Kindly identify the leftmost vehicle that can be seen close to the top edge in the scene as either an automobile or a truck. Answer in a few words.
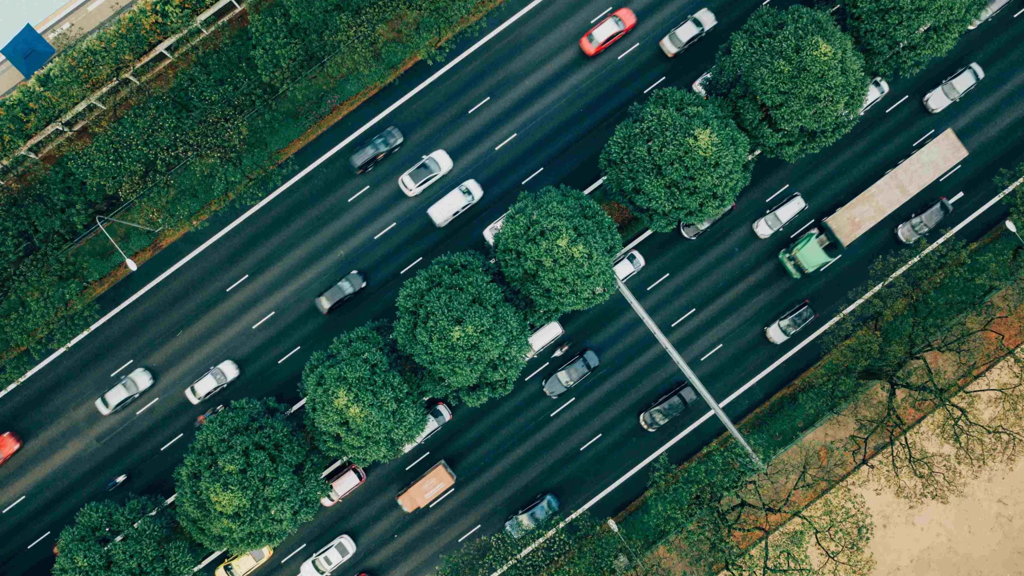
automobile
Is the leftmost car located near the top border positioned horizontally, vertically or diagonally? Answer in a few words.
diagonally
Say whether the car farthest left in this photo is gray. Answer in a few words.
No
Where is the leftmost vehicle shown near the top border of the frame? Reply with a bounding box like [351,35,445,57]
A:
[579,9,637,59]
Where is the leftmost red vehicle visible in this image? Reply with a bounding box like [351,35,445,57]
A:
[0,435,23,468]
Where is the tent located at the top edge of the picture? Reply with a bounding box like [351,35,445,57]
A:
[0,23,67,80]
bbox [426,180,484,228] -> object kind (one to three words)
van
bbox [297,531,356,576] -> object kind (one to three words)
car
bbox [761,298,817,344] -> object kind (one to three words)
car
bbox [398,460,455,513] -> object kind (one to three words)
truck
